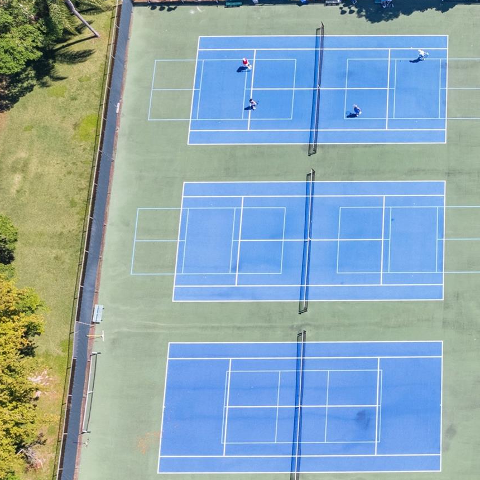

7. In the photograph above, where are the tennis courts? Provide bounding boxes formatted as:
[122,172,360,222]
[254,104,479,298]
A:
[132,182,480,301]
[148,35,480,144]
[157,340,442,473]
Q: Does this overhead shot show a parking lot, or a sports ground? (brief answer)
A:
sports ground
